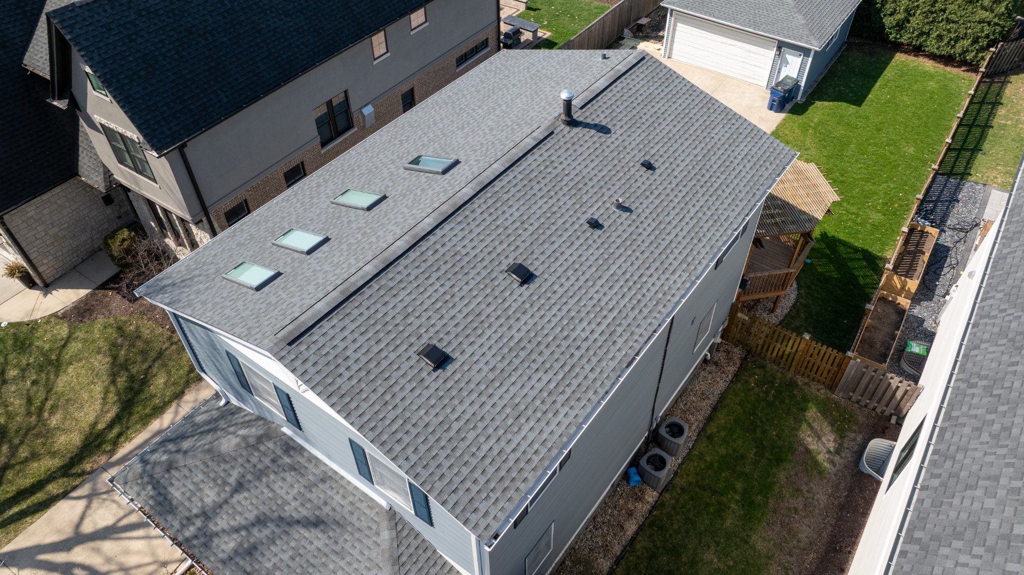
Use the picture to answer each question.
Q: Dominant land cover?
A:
buildings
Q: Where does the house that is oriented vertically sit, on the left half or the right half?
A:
right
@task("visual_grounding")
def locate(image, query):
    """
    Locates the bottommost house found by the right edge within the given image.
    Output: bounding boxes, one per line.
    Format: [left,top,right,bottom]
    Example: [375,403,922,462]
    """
[848,158,1024,575]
